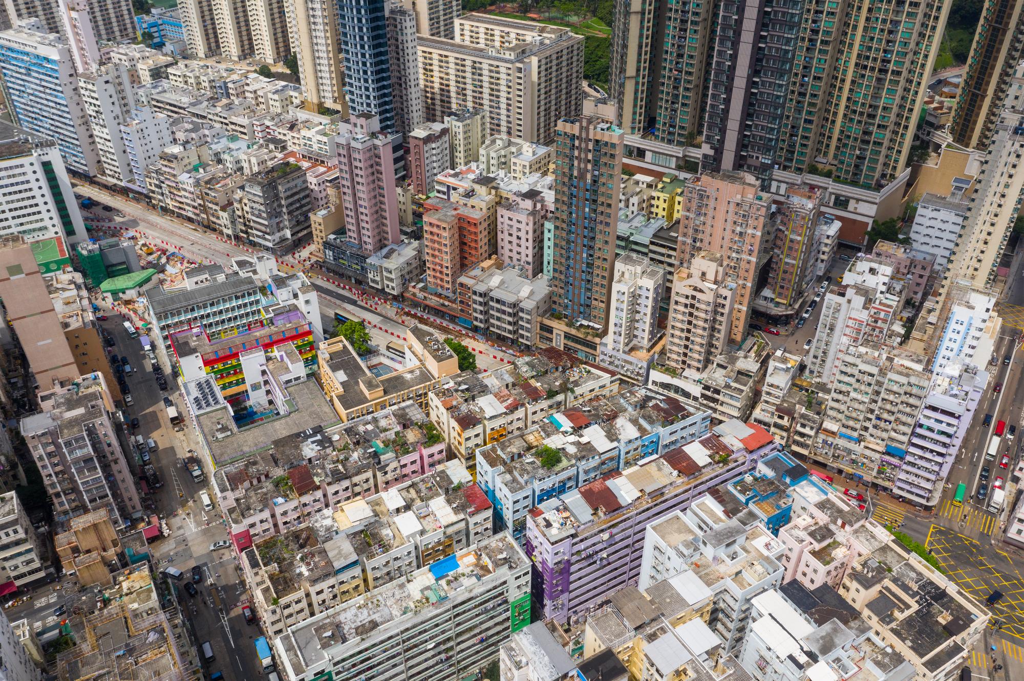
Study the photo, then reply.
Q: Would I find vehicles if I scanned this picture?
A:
Yes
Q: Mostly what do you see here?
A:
buildings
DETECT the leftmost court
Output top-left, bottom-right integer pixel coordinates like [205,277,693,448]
[32,237,72,266]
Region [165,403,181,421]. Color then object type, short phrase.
white vehicle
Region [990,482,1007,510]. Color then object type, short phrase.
white vehicle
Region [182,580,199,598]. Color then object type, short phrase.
black car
